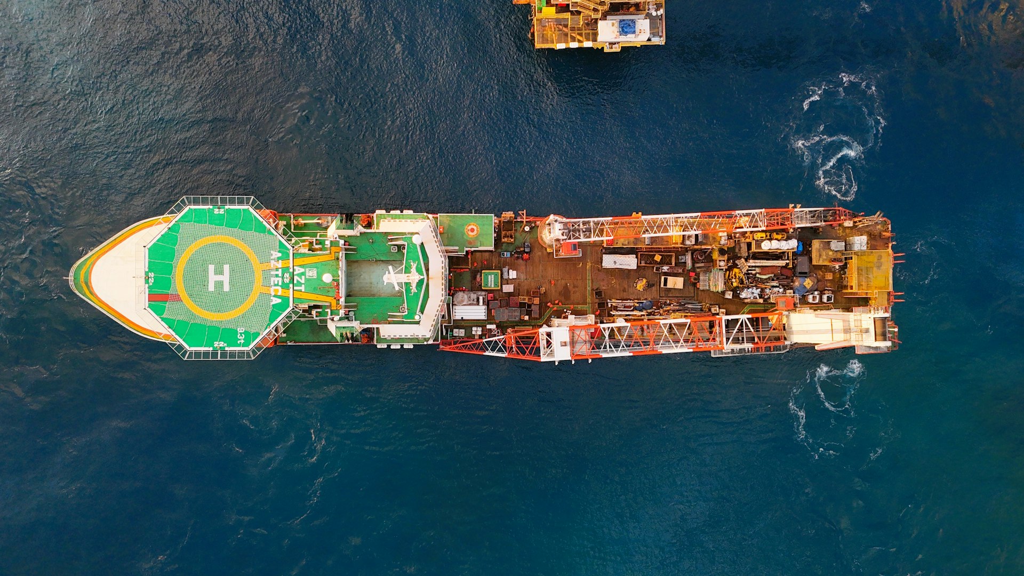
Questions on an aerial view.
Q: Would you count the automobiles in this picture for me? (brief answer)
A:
none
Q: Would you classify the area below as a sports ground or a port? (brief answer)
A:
port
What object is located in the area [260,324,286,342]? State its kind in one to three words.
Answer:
boat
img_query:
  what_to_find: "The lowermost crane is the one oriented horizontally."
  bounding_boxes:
[439,294,893,365]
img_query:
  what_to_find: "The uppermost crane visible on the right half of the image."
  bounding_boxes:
[537,203,865,258]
